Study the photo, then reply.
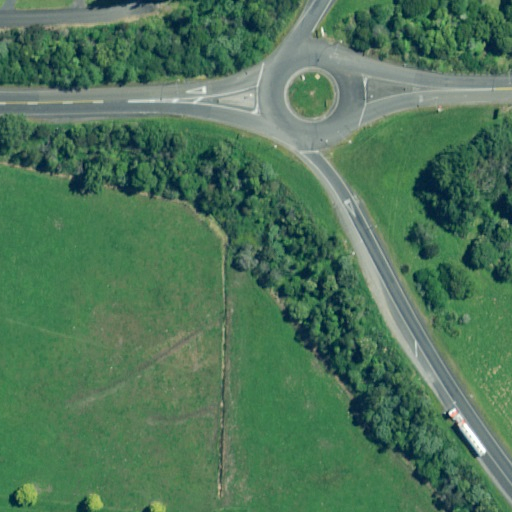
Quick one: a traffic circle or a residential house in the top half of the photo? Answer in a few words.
traffic circle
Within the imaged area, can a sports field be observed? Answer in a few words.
No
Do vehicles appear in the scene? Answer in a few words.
Yes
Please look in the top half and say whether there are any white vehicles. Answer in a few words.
No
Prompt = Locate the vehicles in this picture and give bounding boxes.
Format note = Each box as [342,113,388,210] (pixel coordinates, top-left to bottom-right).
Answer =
[448,408,486,456]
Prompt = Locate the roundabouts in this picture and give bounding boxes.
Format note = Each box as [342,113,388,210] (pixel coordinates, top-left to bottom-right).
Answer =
[206,31,412,153]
